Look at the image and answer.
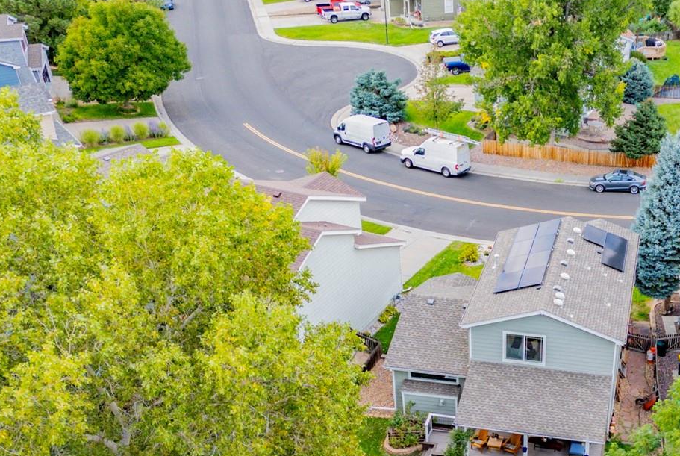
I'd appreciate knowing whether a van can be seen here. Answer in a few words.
Yes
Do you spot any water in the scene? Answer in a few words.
No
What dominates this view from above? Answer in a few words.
trees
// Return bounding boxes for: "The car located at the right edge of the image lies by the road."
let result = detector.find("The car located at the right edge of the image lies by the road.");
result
[587,169,649,195]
